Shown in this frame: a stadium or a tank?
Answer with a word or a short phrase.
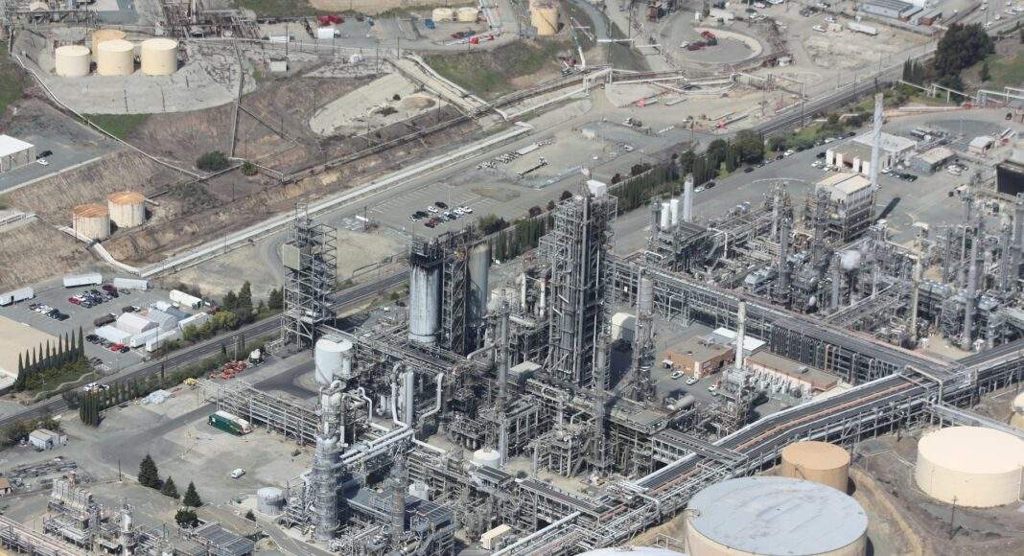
tank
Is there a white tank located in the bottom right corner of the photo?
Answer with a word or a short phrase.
Yes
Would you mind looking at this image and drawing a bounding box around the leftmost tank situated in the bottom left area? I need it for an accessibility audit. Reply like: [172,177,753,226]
[253,486,285,517]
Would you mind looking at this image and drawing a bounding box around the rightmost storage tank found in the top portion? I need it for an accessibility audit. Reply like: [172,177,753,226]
[528,0,560,38]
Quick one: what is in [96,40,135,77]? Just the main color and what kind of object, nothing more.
white storage tank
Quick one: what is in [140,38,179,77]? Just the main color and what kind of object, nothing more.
white storage tank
